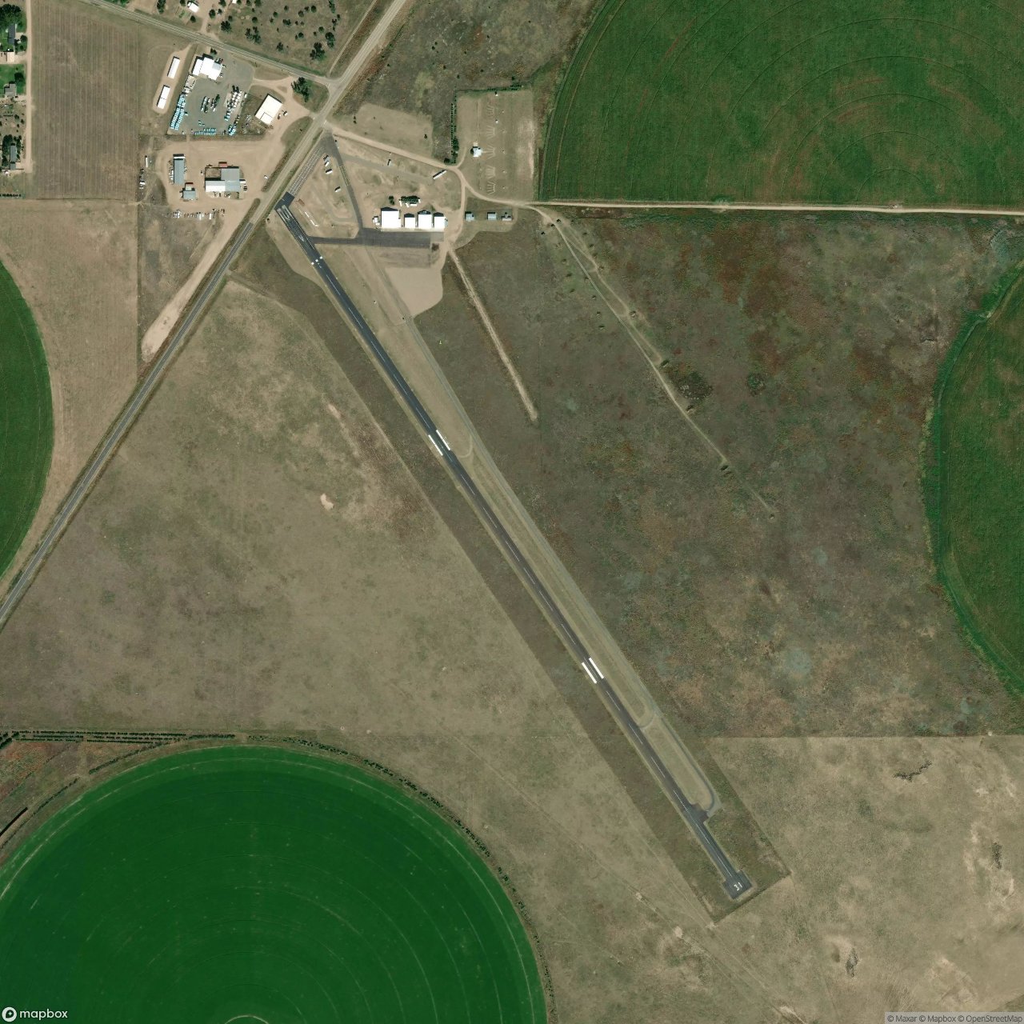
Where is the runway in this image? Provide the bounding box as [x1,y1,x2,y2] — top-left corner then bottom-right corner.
[275,192,752,899]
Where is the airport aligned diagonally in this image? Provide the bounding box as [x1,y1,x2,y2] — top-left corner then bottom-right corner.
[275,129,752,899]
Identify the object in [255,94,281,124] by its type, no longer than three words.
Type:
building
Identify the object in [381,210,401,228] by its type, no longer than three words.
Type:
hangar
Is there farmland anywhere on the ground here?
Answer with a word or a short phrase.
Yes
